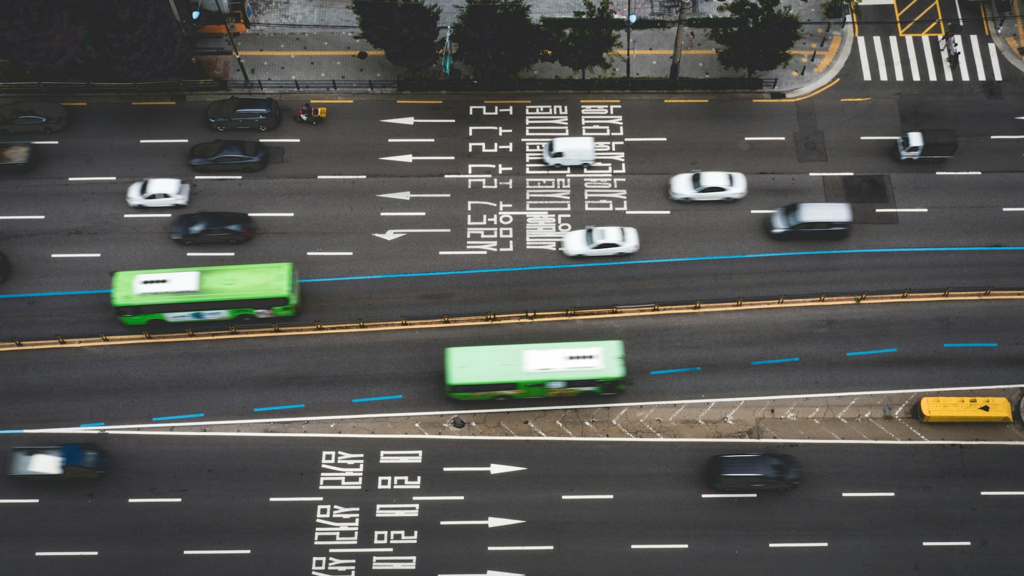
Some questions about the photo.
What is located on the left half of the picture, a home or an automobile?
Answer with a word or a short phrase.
automobile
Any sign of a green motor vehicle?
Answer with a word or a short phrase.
Yes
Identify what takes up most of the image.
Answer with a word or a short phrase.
paved ground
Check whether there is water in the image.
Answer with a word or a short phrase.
No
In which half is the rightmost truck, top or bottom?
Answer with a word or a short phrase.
top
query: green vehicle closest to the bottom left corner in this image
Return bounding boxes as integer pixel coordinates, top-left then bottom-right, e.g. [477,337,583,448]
[104,263,295,326]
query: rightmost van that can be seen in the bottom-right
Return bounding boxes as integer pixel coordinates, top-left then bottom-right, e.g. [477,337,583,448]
[707,447,801,490]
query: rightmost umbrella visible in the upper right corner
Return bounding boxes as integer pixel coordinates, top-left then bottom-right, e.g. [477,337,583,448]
[947,22,962,34]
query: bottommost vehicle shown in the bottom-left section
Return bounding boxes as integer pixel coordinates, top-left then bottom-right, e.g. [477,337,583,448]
[3,437,105,478]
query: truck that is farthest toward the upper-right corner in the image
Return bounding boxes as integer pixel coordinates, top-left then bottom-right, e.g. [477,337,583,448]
[897,128,965,161]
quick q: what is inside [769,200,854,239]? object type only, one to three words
van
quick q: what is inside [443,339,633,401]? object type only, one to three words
bus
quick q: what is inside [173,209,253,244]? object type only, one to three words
car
